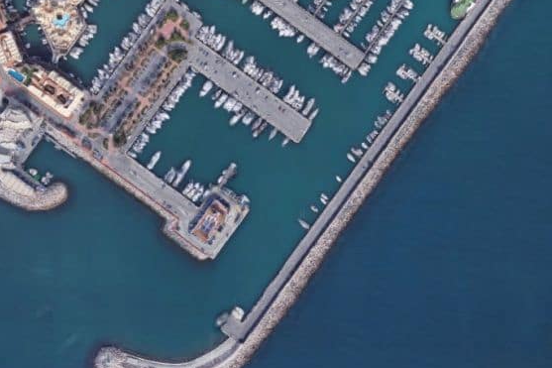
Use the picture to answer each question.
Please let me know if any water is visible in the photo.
Yes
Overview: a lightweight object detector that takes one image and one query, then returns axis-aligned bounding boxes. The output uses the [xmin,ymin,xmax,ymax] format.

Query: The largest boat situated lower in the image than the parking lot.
[172,162,189,187]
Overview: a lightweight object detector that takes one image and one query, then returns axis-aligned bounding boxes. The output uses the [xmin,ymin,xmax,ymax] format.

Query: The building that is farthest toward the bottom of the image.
[192,201,227,239]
